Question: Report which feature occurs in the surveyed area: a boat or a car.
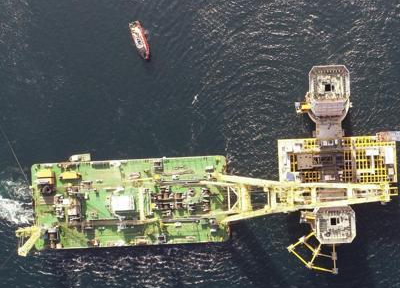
boat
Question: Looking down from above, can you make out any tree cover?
No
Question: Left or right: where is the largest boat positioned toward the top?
left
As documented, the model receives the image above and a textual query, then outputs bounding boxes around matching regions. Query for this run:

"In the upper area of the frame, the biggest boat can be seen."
[125,20,150,59]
